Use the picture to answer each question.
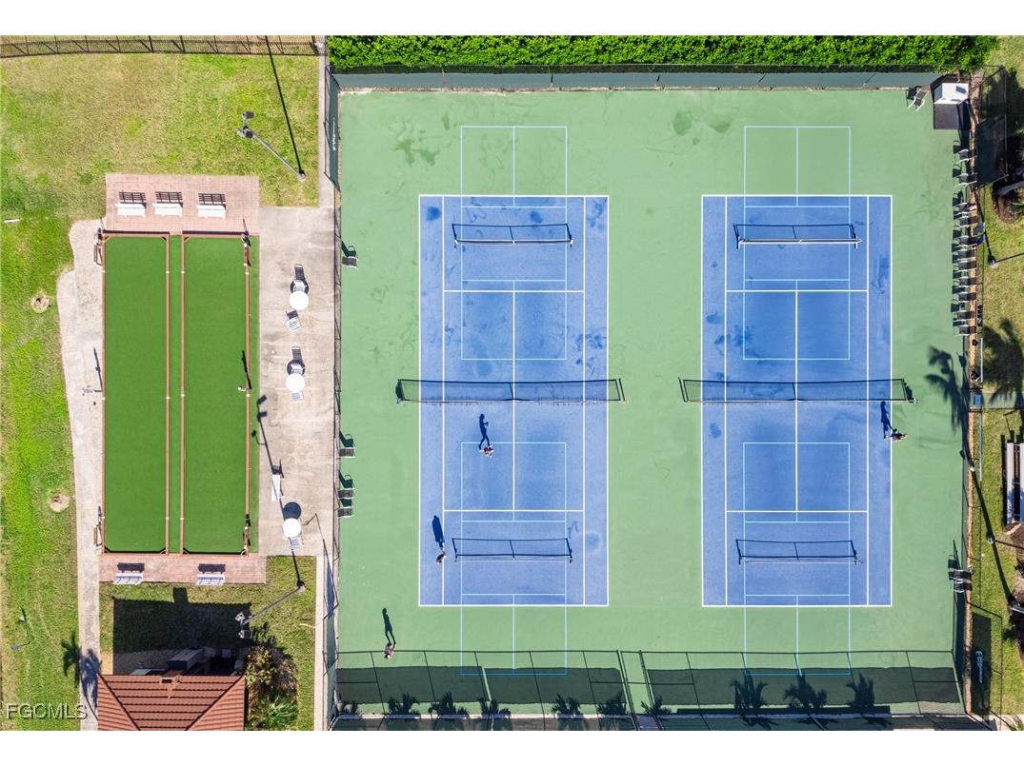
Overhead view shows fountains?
No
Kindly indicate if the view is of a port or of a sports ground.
sports ground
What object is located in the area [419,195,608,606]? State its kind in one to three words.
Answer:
tennis court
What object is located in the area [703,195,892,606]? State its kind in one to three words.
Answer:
tennis court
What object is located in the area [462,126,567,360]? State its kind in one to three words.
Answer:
sports court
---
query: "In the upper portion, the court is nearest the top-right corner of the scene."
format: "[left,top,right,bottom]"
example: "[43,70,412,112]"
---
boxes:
[745,126,851,360]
